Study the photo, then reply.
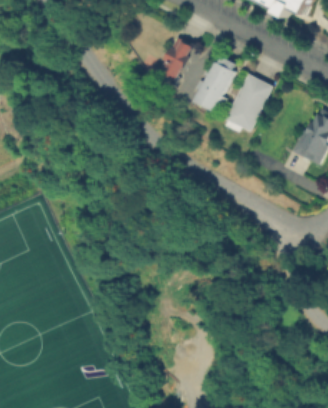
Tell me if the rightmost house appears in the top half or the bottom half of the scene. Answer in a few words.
top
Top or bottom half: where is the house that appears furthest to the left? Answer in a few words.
top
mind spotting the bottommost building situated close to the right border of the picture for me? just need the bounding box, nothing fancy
[294,106,328,166]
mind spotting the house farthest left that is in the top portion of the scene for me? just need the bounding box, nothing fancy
[160,36,190,78]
